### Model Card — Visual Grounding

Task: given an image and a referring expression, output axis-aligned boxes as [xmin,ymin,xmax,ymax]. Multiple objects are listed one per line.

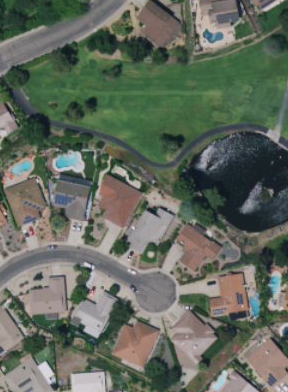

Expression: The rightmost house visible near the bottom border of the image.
[244,338,288,386]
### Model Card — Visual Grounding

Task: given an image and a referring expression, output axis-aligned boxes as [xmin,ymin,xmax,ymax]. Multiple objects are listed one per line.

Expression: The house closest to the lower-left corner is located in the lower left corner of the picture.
[6,354,56,392]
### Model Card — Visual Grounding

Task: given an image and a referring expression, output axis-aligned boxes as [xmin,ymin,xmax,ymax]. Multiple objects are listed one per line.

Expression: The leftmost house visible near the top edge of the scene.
[136,0,182,48]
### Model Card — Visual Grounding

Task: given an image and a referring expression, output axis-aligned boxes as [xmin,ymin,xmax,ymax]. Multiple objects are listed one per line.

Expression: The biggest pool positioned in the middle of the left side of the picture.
[54,150,84,171]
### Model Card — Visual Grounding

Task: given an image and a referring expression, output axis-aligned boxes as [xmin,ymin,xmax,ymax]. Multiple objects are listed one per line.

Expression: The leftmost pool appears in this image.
[10,159,33,177]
